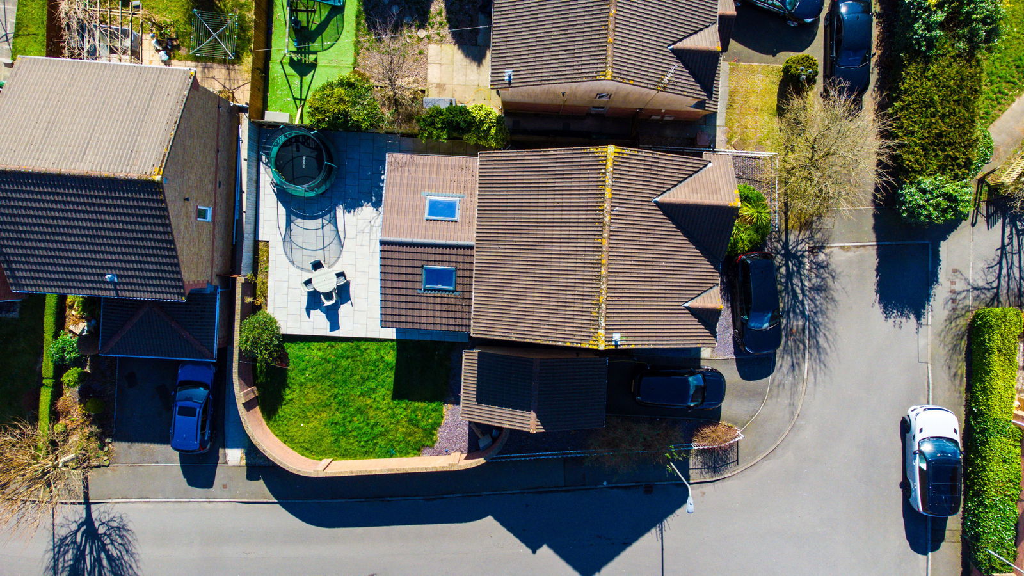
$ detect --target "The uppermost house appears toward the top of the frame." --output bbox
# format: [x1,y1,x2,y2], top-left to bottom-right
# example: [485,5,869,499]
[487,0,737,137]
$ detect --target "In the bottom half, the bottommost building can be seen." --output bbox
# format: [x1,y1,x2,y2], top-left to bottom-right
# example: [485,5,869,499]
[458,347,610,432]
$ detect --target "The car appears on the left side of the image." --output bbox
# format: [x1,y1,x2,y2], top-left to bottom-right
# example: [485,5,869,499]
[170,362,224,453]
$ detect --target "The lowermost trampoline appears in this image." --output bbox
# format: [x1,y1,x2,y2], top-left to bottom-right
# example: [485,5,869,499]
[255,119,340,199]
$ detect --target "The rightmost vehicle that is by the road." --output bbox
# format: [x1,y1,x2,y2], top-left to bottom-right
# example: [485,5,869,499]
[899,403,965,513]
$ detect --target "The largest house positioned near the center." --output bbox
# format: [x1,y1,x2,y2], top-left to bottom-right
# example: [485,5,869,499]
[469,145,740,350]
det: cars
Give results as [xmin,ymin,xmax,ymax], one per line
[170,362,224,453]
[823,0,878,97]
[631,365,726,417]
[899,403,965,513]
[735,0,821,25]
[732,253,786,353]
